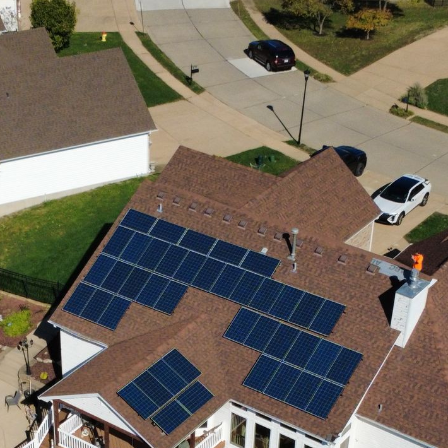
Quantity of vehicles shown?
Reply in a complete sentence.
The photo contains 3 vehicles.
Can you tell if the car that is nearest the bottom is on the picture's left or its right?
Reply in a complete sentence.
The car that is nearest the bottom appears in the right half of the scene.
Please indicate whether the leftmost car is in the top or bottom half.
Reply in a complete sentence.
The top half of the photo is where the leftmost car is.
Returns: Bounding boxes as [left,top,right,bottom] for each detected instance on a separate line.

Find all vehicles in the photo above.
[326,147,365,177]
[371,175,430,225]
[248,38,297,71]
